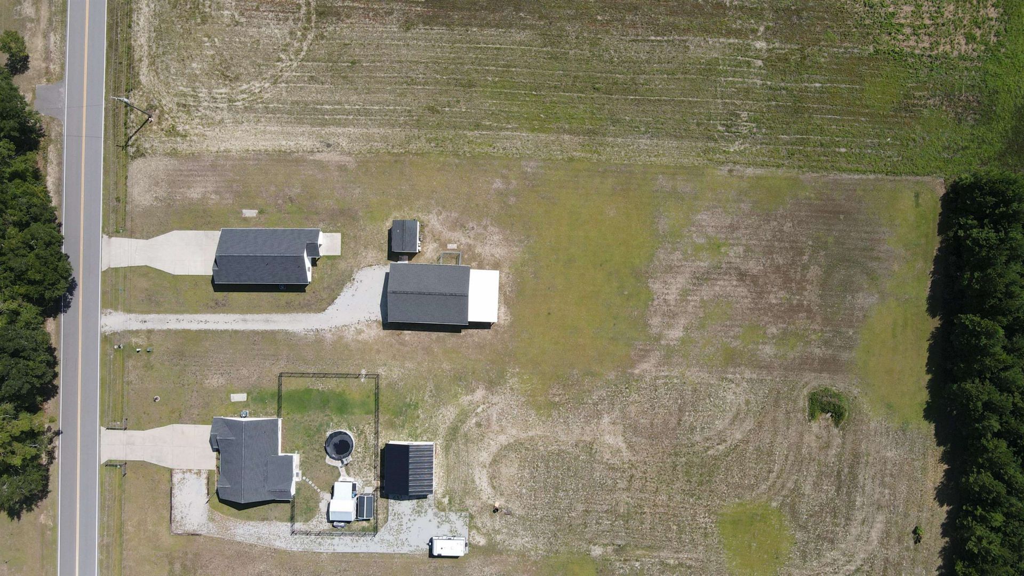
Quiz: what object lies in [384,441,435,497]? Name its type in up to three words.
shed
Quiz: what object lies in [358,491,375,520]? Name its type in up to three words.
greenhouse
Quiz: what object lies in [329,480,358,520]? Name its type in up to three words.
shed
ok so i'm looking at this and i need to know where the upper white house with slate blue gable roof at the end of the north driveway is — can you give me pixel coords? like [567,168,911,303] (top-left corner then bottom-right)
[211,228,323,284]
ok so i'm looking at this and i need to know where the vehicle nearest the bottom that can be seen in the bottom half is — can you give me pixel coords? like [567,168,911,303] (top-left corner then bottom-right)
[427,530,467,556]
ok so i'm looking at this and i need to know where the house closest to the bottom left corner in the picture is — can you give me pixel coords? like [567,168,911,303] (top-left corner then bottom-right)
[210,416,302,503]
